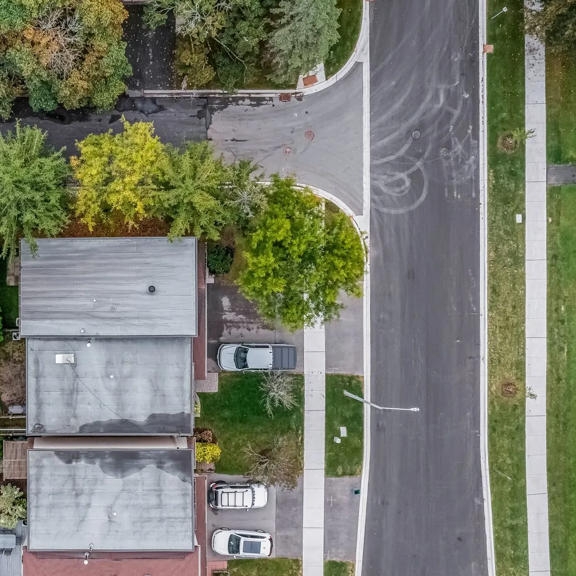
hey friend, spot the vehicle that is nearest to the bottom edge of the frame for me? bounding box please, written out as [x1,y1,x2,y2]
[208,528,272,562]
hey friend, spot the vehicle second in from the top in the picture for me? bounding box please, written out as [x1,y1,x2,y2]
[207,481,267,514]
